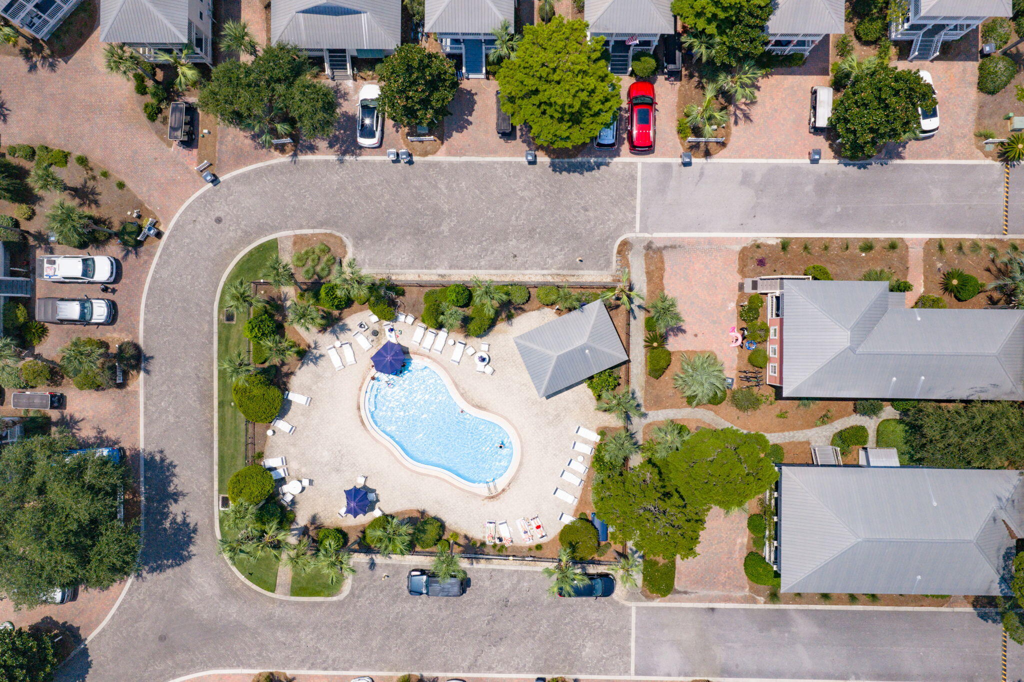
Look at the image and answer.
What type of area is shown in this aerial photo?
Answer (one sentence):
This looks like a residential area.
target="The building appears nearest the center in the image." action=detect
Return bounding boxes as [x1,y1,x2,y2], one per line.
[512,299,629,399]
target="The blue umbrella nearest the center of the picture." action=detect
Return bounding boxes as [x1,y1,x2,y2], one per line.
[372,340,406,374]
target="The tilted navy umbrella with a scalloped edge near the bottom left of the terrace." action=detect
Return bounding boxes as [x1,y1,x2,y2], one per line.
[338,485,373,519]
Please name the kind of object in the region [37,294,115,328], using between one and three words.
truck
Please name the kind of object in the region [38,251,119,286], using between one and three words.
truck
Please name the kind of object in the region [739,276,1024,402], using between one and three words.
house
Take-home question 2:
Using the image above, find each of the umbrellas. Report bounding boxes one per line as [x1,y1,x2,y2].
[338,485,373,519]
[372,340,406,374]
